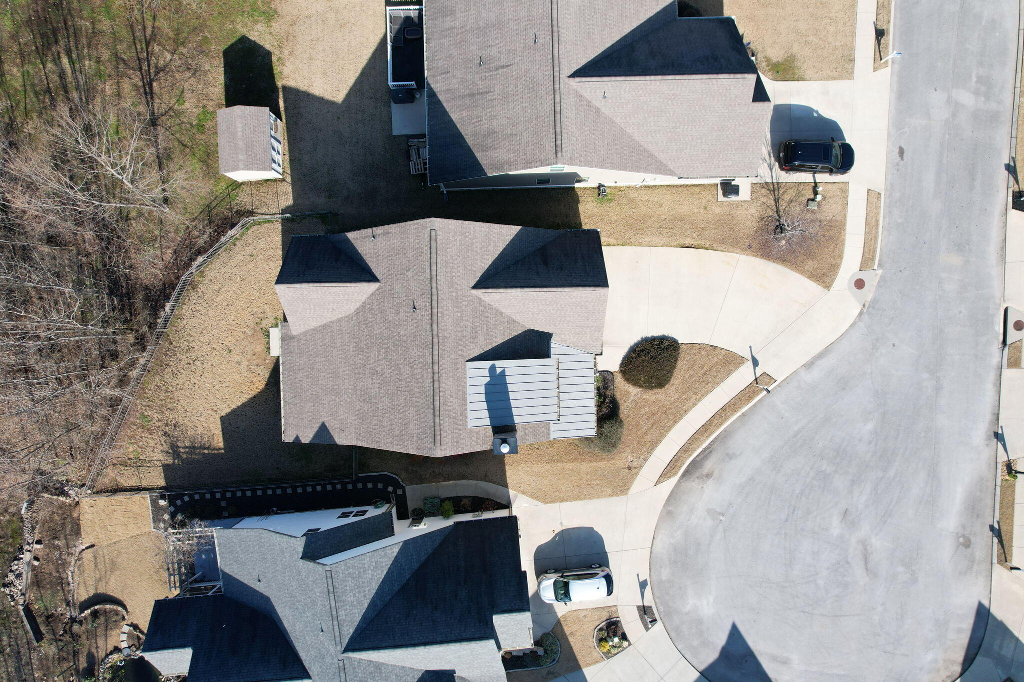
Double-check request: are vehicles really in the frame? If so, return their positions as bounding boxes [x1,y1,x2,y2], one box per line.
[538,564,615,608]
[777,138,856,177]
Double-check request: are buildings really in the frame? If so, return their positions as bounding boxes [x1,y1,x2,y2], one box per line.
[140,504,537,682]
[218,105,280,181]
[423,0,771,197]
[277,218,609,457]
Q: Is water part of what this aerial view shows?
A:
No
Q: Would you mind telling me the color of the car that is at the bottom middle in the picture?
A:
white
